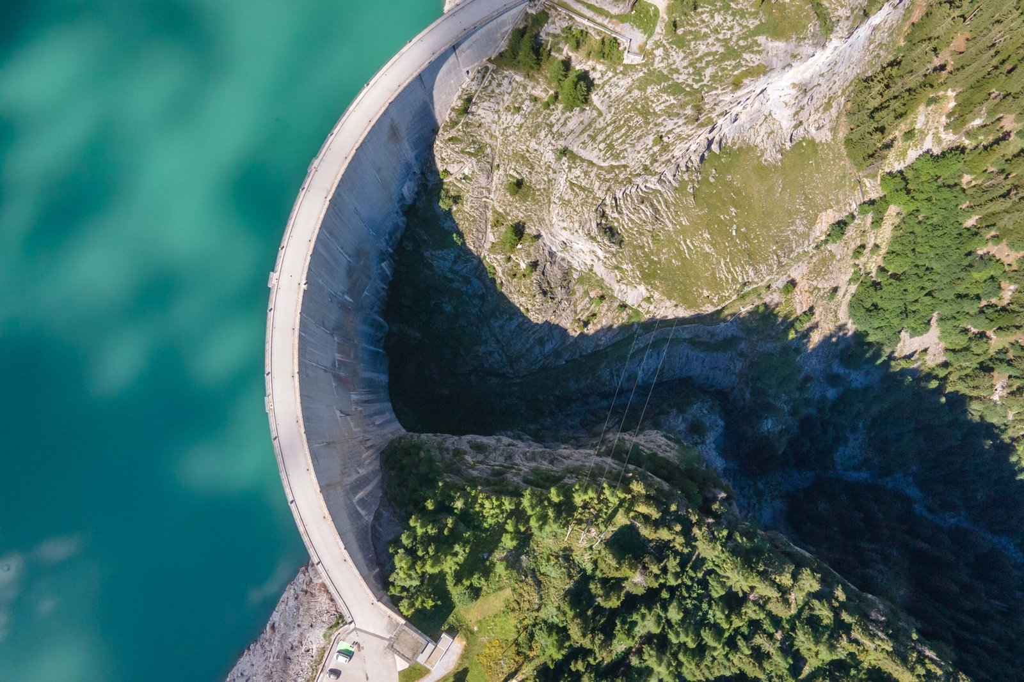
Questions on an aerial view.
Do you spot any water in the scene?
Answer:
Yes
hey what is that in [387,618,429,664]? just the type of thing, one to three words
building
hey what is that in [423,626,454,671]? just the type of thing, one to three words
building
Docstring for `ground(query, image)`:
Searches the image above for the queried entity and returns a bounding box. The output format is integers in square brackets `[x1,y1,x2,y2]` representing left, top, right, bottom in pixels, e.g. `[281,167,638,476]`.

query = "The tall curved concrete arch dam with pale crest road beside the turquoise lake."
[262,0,532,623]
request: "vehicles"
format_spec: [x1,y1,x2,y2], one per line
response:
[333,653,350,667]
[325,670,340,682]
